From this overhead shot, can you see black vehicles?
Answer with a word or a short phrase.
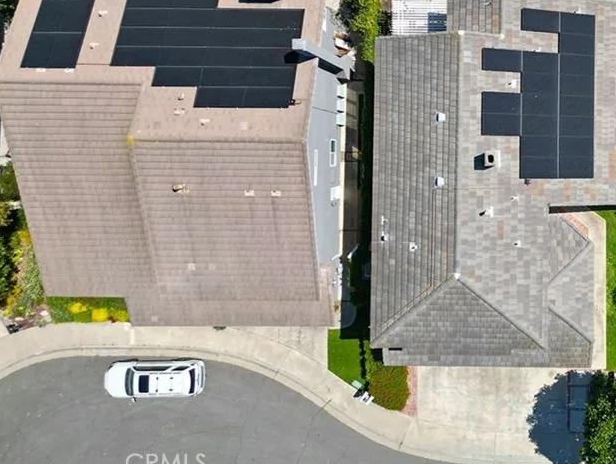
No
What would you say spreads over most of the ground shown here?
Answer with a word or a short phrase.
buildings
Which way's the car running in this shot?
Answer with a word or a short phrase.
from left to right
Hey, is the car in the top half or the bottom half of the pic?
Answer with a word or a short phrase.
bottom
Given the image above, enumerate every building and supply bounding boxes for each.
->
[370,0,616,368]
[0,0,350,328]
